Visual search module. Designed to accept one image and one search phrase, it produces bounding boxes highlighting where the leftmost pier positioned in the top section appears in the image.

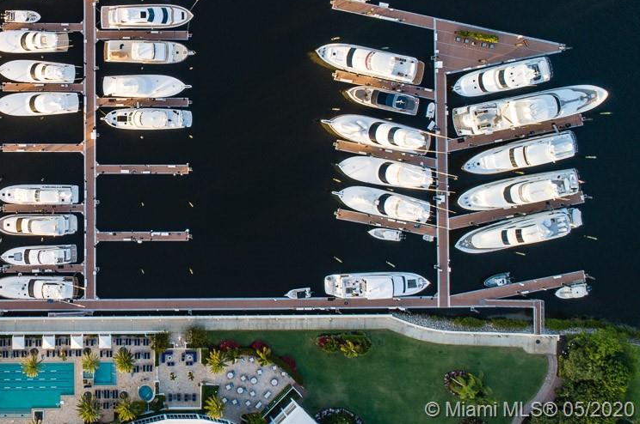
[0,0,193,298]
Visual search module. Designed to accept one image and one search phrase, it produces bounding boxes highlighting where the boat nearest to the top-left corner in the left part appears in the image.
[2,11,42,24]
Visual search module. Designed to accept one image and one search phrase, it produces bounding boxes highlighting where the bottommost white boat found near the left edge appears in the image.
[0,274,83,299]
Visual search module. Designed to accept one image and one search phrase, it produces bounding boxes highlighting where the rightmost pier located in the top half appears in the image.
[331,0,586,298]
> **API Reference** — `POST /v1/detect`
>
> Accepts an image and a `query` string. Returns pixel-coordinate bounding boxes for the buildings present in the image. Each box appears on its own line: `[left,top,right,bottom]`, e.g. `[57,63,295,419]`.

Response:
[116,408,242,424]
[263,385,319,424]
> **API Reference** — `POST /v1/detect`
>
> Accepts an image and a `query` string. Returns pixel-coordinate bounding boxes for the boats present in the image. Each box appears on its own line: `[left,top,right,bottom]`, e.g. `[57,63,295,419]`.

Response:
[457,208,583,253]
[340,157,455,194]
[0,274,83,299]
[0,244,77,266]
[285,288,312,298]
[0,29,74,54]
[465,132,578,174]
[482,278,514,292]
[423,103,433,121]
[2,11,42,24]
[0,184,78,205]
[0,59,82,85]
[101,3,193,30]
[101,107,192,131]
[323,271,432,298]
[460,170,584,210]
[104,40,195,64]
[367,228,403,240]
[103,74,191,99]
[323,116,457,159]
[454,58,550,94]
[347,87,418,115]
[0,211,78,236]
[0,91,79,116]
[317,43,420,83]
[334,188,455,231]
[552,286,590,299]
